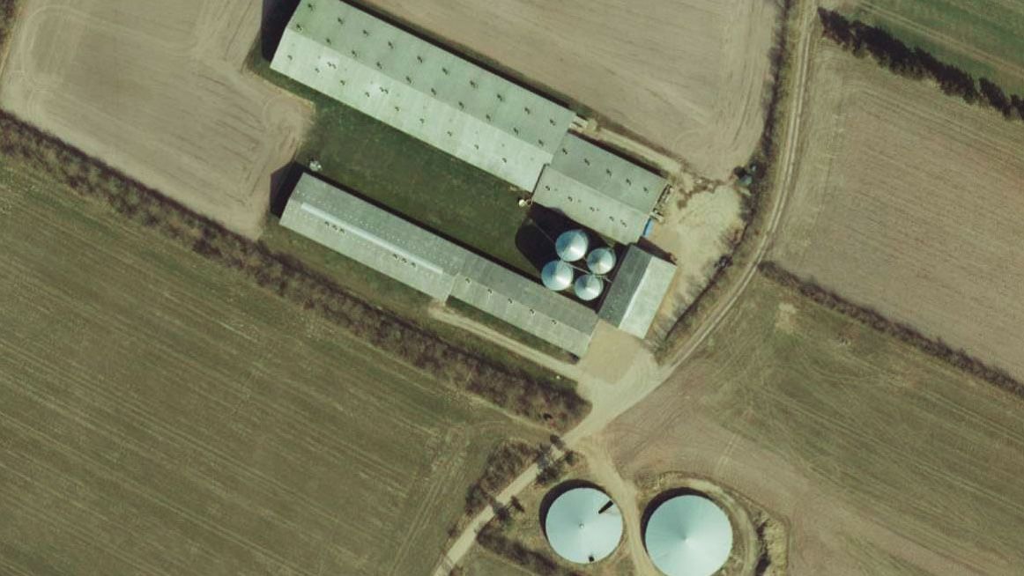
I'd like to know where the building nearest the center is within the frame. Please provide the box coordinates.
[449,254,599,356]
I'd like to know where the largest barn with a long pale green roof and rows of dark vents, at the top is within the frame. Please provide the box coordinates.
[271,0,573,193]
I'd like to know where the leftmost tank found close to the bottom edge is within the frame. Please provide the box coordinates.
[544,487,622,565]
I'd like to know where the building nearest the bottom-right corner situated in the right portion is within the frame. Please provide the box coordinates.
[598,246,677,338]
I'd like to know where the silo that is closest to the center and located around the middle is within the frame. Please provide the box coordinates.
[540,259,574,292]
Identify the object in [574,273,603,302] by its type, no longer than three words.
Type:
silo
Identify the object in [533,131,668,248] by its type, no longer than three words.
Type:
barn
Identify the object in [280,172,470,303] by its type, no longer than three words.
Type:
barn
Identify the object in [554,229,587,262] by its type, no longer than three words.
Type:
silo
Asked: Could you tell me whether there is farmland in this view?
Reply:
Yes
